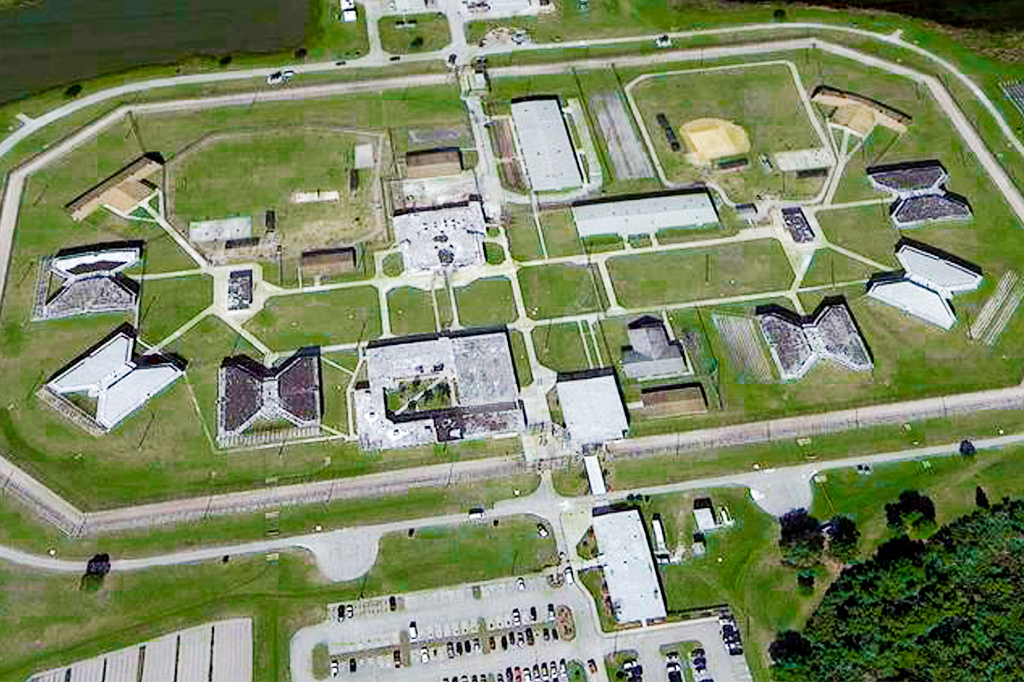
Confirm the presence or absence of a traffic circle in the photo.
No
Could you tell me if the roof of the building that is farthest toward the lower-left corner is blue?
No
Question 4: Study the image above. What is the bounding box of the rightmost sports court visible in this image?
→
[775,145,835,169]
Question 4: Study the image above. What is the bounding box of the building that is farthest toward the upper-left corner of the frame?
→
[66,159,163,223]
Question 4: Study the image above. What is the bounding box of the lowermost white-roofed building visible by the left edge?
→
[48,331,183,434]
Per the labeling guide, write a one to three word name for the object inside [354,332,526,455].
building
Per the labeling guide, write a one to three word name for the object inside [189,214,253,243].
sports court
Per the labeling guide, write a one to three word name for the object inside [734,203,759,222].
shed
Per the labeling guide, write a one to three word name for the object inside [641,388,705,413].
building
